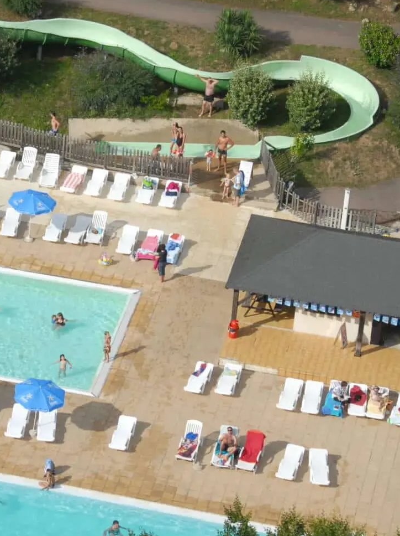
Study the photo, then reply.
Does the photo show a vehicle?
No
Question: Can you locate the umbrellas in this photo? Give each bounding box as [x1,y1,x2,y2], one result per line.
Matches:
[14,383,64,438]
[9,193,53,243]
